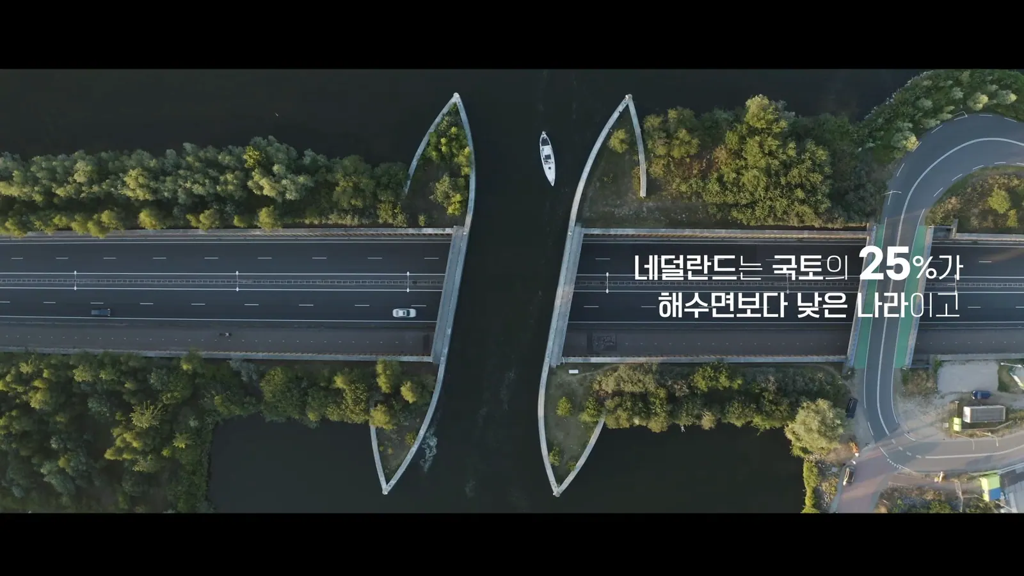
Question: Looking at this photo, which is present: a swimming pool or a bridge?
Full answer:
The one in the frame is a bridge.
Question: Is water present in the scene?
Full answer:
Yes, there is water in the image.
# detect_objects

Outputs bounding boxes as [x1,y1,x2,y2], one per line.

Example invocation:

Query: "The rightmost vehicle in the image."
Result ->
[970,389,993,401]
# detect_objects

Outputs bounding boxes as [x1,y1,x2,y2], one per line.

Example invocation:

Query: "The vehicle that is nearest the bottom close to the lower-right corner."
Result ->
[842,465,855,485]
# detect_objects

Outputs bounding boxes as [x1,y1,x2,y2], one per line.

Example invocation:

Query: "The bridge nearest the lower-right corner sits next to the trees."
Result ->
[842,223,934,371]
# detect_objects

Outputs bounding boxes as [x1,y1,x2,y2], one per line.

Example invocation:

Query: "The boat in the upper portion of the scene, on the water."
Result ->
[539,130,556,186]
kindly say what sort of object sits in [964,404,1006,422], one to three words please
building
